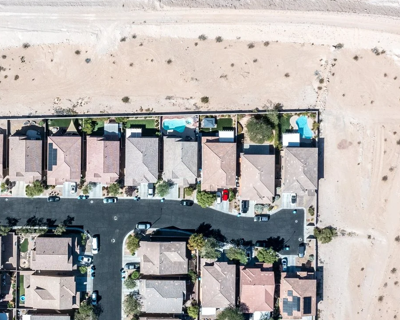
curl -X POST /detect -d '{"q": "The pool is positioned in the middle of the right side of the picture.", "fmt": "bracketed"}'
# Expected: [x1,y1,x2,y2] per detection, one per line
[295,115,314,140]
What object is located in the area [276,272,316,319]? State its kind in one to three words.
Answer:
house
